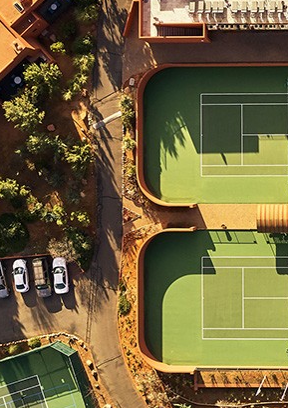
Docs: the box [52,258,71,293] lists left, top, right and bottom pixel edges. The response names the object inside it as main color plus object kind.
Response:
white car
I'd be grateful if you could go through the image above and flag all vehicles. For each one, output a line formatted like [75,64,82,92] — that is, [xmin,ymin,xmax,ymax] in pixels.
[12,258,31,292]
[52,258,71,293]
[0,262,11,297]
[32,257,54,297]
